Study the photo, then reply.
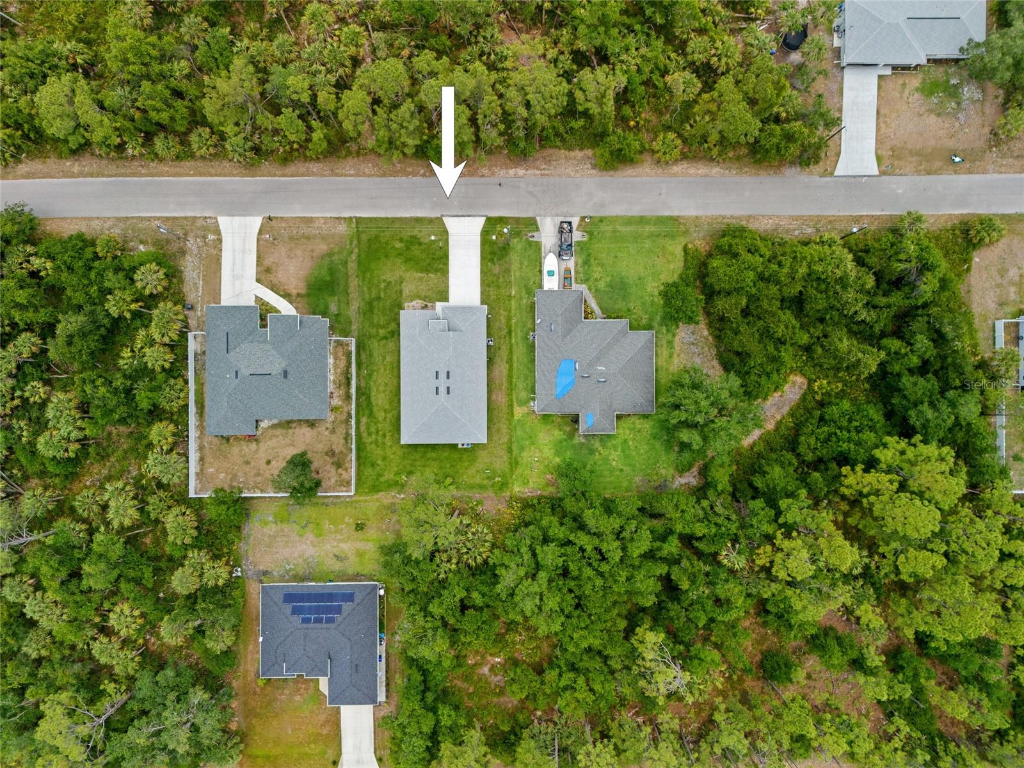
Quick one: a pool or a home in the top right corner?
home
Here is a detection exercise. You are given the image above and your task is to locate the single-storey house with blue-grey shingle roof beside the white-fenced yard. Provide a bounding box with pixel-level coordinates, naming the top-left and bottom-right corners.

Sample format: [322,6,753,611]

[204,305,330,436]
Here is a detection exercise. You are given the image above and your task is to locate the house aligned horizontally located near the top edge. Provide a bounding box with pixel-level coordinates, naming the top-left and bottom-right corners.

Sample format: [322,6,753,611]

[839,0,986,70]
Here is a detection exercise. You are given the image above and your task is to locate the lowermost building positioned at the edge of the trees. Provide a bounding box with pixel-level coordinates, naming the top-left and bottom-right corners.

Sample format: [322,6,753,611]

[260,581,379,707]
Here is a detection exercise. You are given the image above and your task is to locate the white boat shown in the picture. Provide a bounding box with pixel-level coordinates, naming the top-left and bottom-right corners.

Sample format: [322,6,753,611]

[543,251,558,289]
